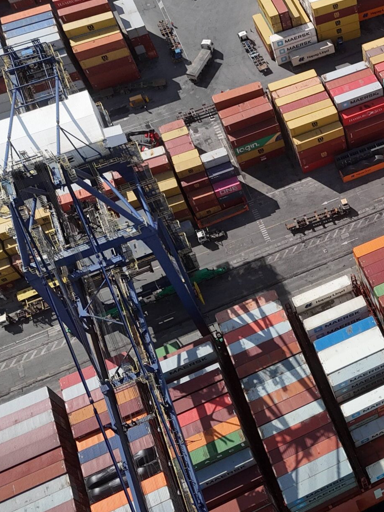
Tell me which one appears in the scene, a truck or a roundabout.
truck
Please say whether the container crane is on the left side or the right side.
left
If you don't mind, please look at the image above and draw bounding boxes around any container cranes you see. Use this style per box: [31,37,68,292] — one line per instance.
[0,19,227,512]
